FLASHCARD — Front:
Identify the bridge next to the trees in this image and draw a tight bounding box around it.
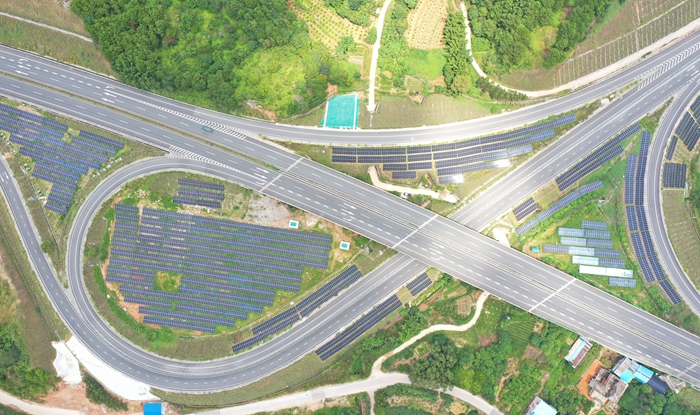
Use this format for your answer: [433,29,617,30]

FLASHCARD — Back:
[262,149,700,396]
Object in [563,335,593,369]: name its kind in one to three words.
shed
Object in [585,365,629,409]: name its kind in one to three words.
house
